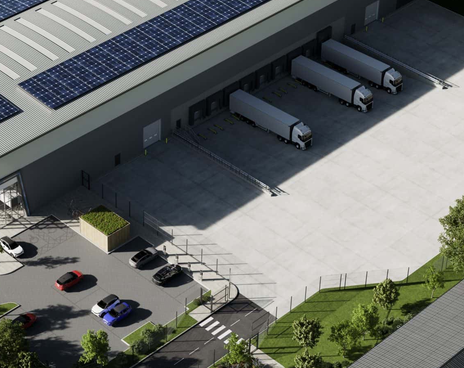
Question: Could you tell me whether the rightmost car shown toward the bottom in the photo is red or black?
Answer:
black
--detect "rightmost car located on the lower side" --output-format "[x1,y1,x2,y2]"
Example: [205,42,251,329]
[153,265,183,285]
